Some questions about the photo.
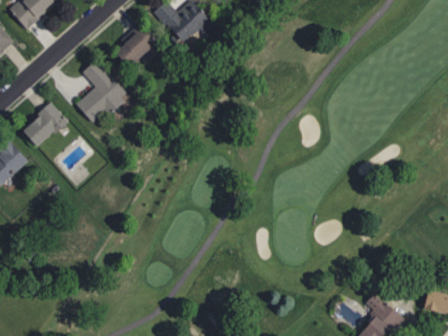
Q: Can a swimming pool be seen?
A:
Yes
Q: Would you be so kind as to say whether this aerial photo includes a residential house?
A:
Yes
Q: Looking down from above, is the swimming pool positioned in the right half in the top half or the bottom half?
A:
bottom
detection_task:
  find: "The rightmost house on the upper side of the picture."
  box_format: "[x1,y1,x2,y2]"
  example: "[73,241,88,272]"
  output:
[156,2,210,44]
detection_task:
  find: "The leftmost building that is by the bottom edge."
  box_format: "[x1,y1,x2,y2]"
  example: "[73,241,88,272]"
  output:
[359,293,404,336]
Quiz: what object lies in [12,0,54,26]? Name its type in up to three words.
house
